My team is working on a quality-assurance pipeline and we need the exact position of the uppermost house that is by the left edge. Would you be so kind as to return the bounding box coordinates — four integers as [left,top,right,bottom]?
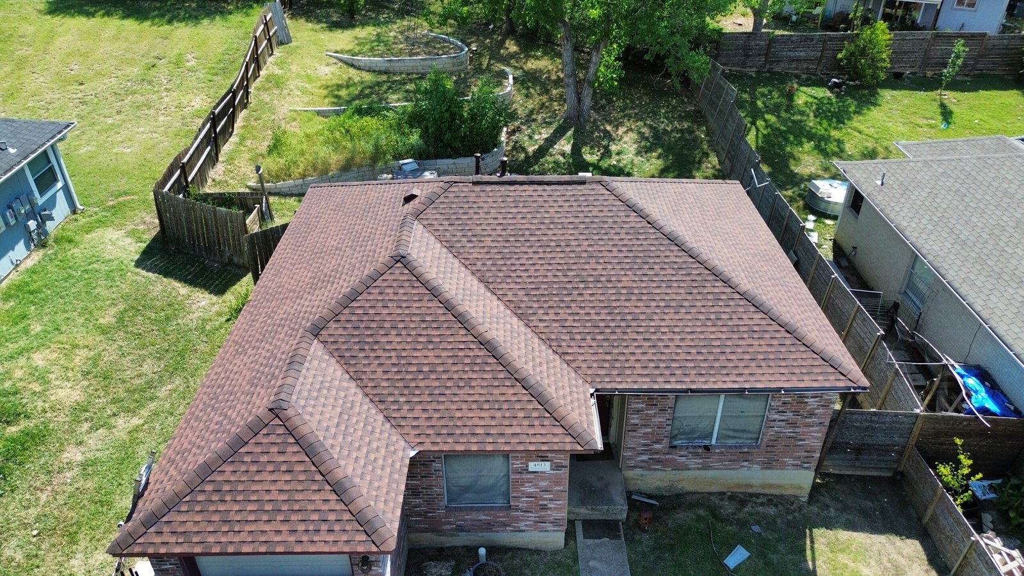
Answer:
[0,121,86,282]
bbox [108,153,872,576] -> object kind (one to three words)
house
